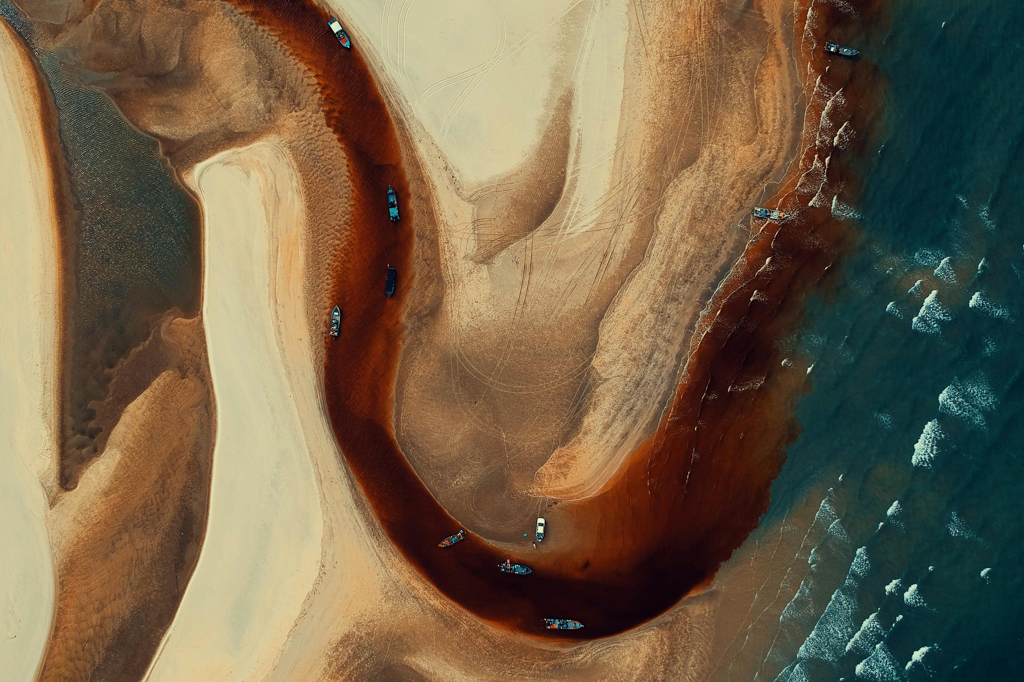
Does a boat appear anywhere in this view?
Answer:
Yes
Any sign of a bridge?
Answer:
No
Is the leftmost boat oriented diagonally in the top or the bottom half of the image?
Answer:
top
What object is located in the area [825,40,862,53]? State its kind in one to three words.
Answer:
boat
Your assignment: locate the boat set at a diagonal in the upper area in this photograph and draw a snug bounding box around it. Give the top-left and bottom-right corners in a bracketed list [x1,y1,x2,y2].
[327,16,349,46]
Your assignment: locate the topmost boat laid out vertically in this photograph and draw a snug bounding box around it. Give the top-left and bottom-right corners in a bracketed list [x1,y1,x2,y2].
[387,185,399,220]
